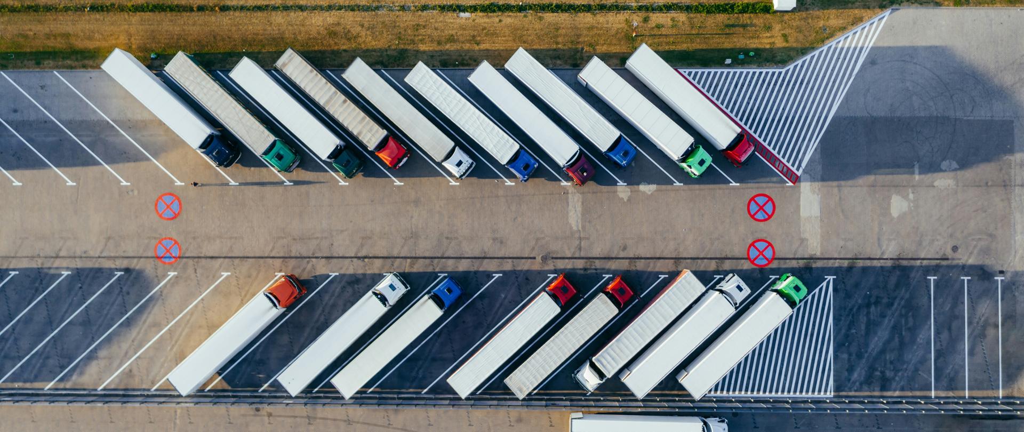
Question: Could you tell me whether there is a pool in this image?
No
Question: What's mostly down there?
paved ground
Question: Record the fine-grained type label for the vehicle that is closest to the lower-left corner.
truck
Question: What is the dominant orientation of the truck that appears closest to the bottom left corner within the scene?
on a diagonal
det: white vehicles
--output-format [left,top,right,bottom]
[228,56,365,179]
[620,274,752,398]
[676,276,809,399]
[574,270,705,393]
[278,271,411,396]
[331,276,464,399]
[100,47,242,169]
[576,56,712,175]
[342,58,476,180]
[506,48,638,169]
[468,61,597,185]
[570,411,727,432]
[448,274,579,397]
[624,44,757,166]
[405,62,539,182]
[168,274,307,397]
